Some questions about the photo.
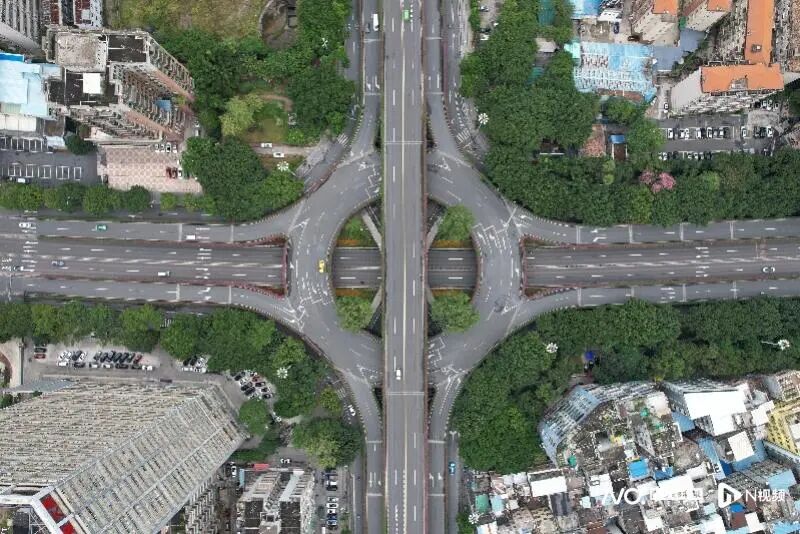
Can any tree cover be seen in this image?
Yes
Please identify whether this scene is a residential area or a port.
residential area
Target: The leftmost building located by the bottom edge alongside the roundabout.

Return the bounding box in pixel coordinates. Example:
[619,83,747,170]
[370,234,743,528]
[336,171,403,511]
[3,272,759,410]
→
[0,383,245,534]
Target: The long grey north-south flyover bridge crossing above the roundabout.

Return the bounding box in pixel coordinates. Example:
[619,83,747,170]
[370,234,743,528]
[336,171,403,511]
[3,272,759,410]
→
[380,0,430,534]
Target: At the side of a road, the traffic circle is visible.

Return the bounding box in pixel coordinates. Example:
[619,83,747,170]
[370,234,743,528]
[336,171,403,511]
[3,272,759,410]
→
[281,148,529,391]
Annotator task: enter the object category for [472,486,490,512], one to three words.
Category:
house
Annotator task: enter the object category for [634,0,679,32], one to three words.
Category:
building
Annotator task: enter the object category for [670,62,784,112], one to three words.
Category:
building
